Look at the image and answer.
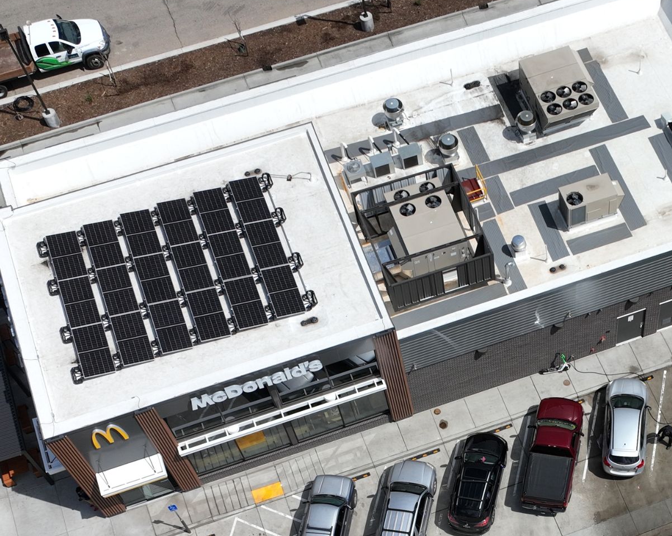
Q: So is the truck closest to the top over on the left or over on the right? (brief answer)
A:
left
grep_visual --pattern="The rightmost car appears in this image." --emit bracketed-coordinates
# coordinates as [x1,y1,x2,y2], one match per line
[602,380,654,478]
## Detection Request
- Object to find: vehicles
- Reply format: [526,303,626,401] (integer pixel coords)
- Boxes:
[375,458,437,536]
[296,472,356,536]
[447,431,510,536]
[0,15,113,84]
[602,380,654,478]
[523,394,586,514]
